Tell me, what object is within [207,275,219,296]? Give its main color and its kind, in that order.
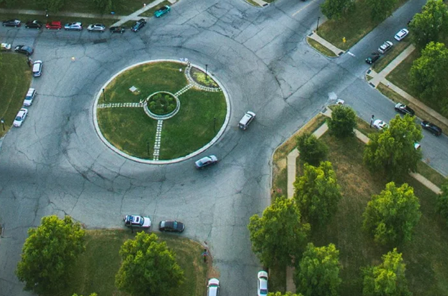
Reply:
white vehicle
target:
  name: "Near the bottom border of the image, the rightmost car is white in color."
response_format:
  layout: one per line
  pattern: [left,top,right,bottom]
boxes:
[256,273,269,296]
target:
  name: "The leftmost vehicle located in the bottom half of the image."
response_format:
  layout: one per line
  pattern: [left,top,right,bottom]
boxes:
[124,215,151,229]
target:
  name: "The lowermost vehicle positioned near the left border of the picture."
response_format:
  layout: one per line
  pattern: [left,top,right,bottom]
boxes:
[12,107,30,128]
